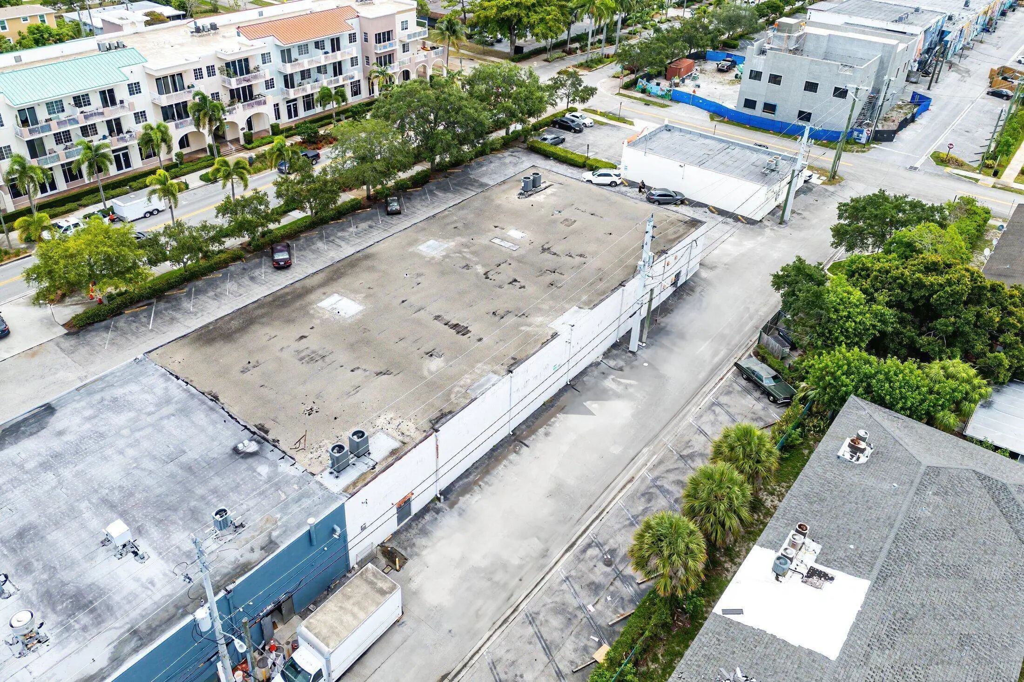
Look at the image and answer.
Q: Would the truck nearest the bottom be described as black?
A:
No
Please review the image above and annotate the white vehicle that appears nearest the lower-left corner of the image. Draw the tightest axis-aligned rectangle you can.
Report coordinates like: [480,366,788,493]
[273,565,404,682]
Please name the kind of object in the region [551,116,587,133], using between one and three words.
car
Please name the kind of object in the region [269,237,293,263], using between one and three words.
car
